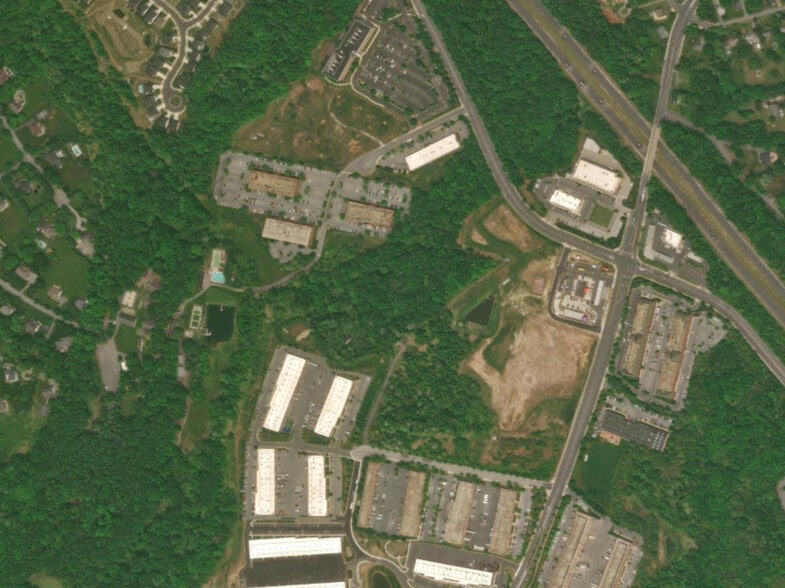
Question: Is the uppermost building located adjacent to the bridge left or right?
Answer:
right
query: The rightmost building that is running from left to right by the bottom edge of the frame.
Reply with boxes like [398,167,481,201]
[414,559,493,586]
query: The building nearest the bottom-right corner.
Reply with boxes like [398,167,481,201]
[596,538,633,588]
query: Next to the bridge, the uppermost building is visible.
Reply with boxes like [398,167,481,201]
[573,159,622,192]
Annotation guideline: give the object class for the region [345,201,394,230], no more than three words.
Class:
building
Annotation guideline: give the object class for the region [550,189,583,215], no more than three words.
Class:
building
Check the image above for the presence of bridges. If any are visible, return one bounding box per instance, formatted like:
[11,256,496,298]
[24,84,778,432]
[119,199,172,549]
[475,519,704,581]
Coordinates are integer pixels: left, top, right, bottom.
[641,127,662,176]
